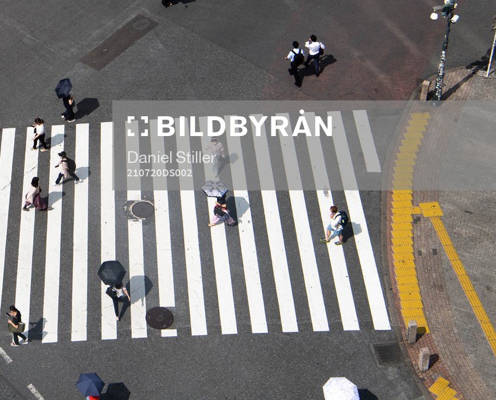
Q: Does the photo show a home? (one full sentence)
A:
No, the photo shows no home.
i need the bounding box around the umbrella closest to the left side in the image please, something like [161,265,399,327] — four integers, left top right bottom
[56,78,78,102]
